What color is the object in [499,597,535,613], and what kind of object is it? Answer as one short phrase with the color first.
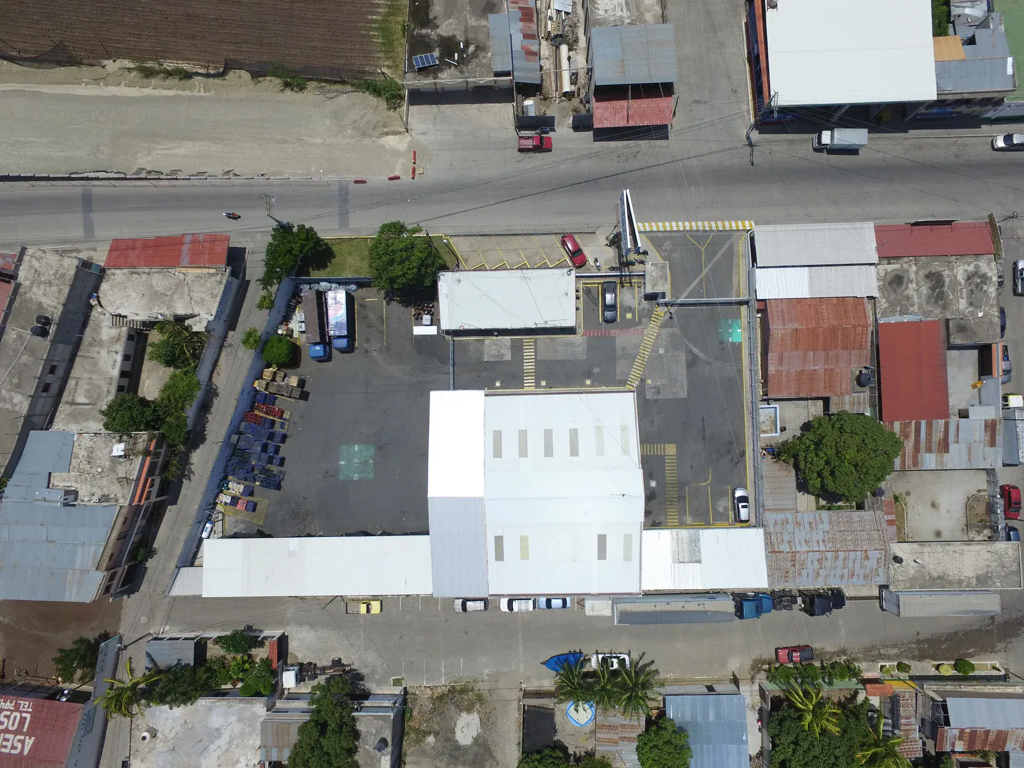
white car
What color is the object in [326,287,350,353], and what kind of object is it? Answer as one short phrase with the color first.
white truck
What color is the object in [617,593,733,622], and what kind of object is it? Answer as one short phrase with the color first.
gray trailer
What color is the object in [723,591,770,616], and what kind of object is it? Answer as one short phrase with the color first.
blue truck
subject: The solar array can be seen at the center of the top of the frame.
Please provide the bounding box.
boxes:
[411,51,440,70]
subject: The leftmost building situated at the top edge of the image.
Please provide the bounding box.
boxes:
[405,0,513,98]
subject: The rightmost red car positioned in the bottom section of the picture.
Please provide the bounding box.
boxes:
[1000,484,1020,519]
